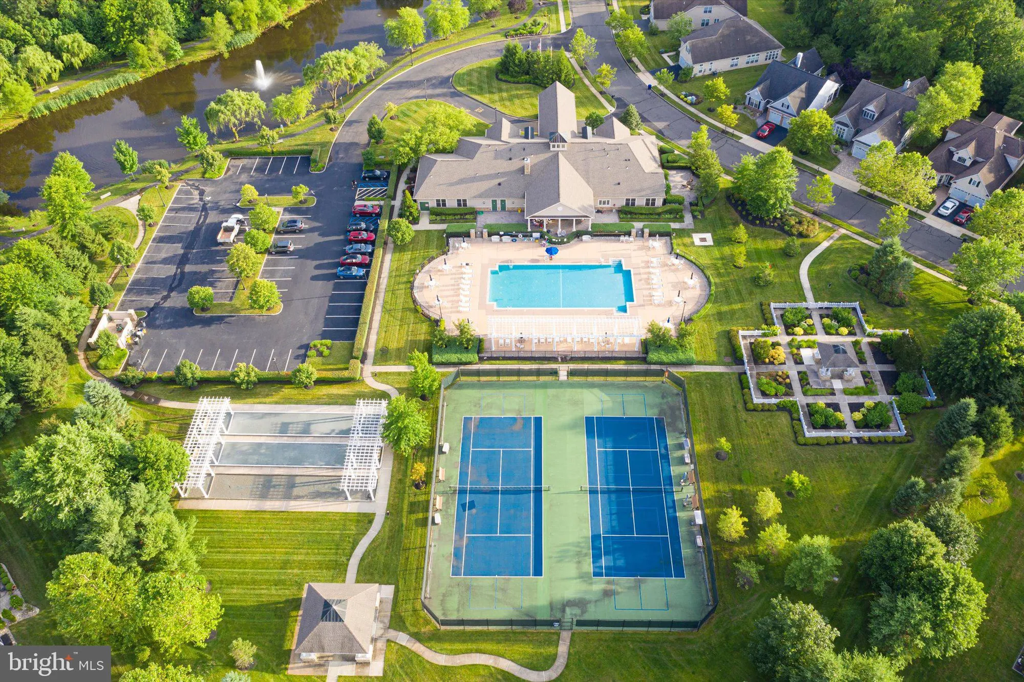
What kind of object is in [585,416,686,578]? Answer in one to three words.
tennis court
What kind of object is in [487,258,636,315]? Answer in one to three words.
swimming pool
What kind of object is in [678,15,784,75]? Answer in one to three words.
house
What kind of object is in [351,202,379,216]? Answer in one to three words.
car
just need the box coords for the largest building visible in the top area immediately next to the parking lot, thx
[414,80,667,231]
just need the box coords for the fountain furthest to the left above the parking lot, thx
[251,59,276,91]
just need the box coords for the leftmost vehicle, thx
[218,219,243,244]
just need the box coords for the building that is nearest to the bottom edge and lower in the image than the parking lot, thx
[294,582,379,655]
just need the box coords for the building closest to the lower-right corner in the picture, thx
[815,341,861,370]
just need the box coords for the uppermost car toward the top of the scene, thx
[757,123,777,137]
